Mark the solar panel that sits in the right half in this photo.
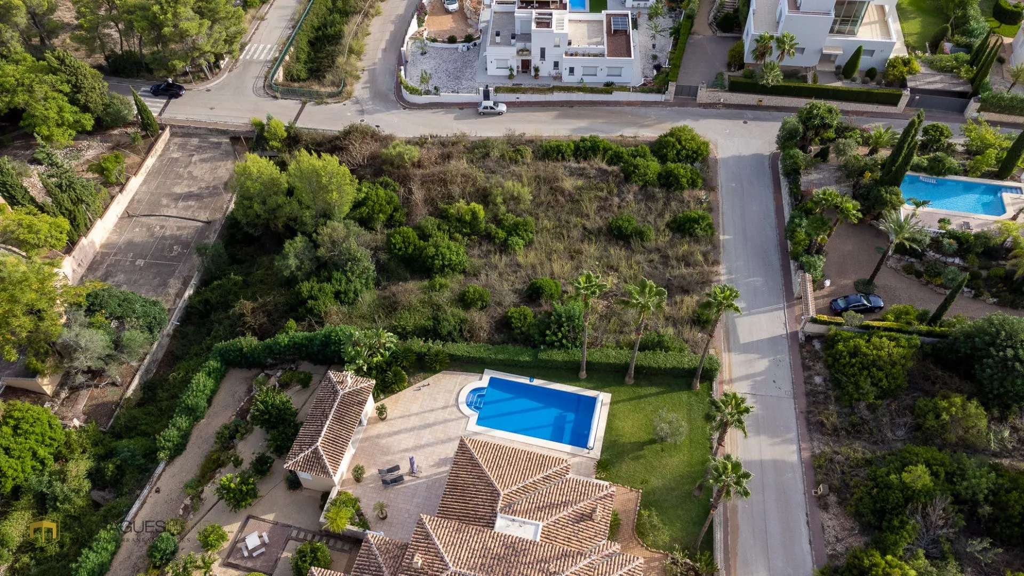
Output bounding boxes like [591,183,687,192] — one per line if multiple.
[610,17,629,33]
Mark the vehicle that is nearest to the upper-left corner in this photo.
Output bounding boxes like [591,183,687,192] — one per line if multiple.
[148,81,186,98]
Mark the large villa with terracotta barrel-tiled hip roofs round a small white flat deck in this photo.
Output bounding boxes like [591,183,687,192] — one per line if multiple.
[304,435,655,576]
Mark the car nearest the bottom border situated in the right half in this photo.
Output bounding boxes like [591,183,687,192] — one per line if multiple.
[829,291,884,314]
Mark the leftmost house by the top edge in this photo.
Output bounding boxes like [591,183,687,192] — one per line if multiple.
[486,0,633,82]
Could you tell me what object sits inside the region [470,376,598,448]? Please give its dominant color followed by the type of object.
blue swimming pool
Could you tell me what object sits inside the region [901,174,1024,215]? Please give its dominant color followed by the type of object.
blue swimming pool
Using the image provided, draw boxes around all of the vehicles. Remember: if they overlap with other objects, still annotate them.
[443,0,458,11]
[148,81,186,98]
[476,100,506,115]
[829,291,884,314]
